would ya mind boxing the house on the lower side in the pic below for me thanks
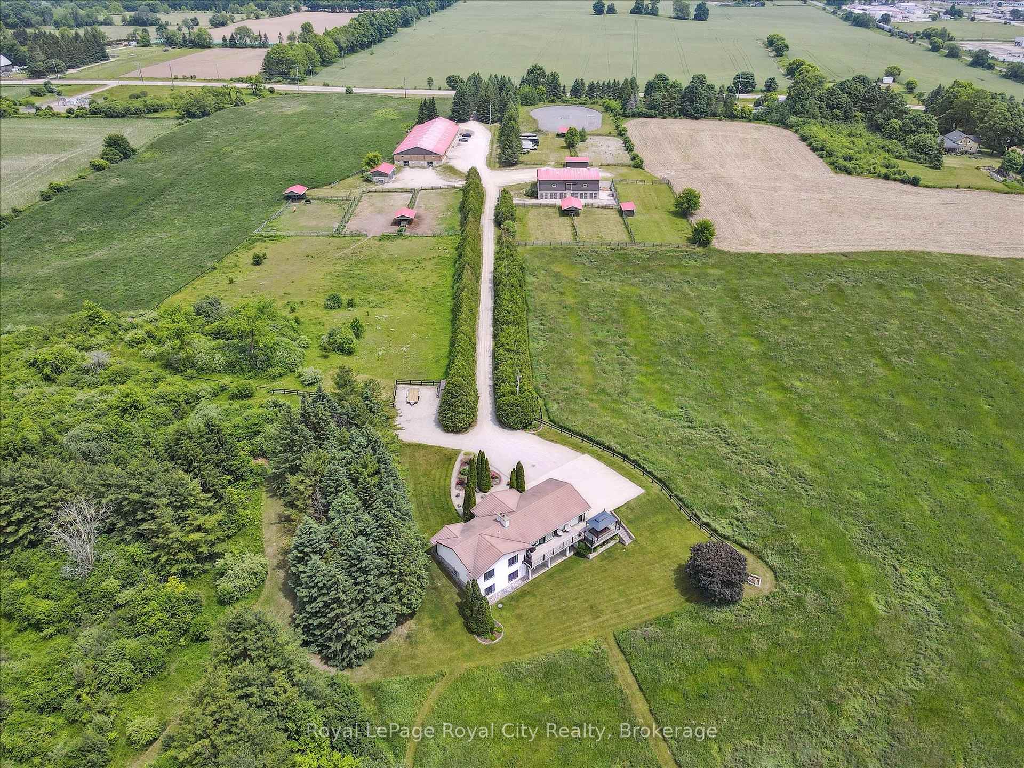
[429,478,634,602]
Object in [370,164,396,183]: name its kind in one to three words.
shed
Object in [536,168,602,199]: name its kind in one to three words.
building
